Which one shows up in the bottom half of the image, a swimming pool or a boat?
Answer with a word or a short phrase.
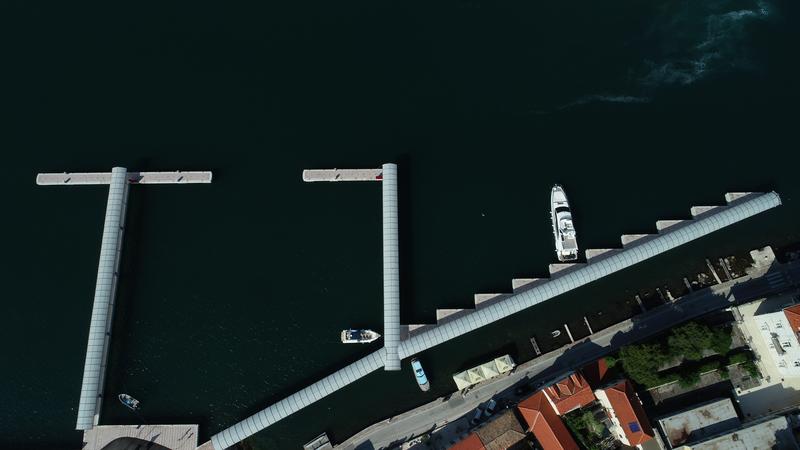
boat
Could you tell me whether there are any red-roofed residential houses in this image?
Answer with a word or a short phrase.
Yes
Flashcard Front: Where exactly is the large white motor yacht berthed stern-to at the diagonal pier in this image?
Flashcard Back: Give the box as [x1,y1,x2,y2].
[548,181,584,269]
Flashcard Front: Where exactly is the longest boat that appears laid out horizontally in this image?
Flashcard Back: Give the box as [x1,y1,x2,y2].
[341,328,380,344]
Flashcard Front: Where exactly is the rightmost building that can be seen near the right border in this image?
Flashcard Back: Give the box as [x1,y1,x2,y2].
[755,303,800,382]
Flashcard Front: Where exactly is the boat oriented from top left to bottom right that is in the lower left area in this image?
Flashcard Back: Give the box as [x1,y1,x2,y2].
[118,395,139,410]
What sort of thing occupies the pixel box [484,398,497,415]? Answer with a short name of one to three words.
vehicle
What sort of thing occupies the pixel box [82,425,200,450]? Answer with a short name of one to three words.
pier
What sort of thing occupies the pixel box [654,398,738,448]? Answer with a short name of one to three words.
building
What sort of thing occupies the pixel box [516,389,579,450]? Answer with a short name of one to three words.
house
